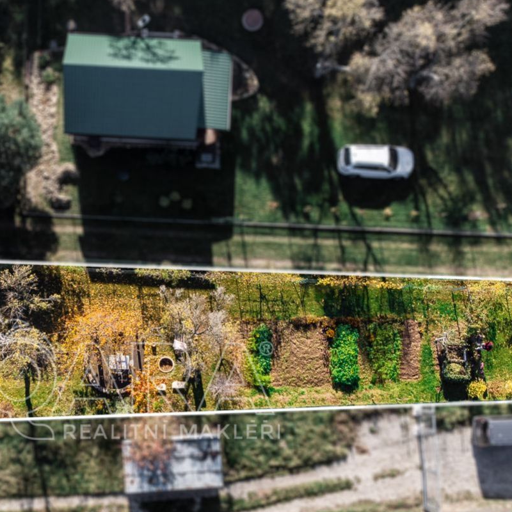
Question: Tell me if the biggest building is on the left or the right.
left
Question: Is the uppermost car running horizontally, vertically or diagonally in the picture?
horizontally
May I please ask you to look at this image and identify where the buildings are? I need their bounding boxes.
[63,32,235,154]
[122,433,224,495]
